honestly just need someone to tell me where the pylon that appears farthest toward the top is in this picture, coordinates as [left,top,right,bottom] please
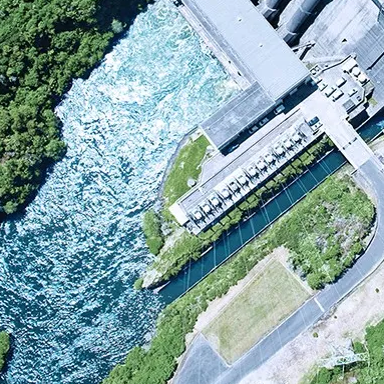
[311,335,360,376]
